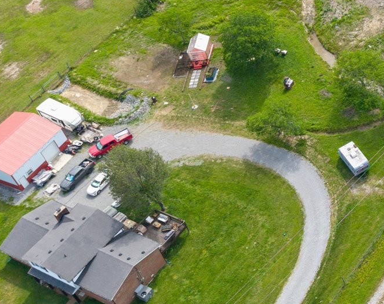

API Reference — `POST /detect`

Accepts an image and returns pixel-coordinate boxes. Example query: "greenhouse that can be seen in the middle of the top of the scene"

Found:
[186,32,216,66]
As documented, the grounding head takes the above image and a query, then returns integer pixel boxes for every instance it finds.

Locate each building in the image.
[186,32,216,66]
[0,199,166,304]
[0,111,70,191]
